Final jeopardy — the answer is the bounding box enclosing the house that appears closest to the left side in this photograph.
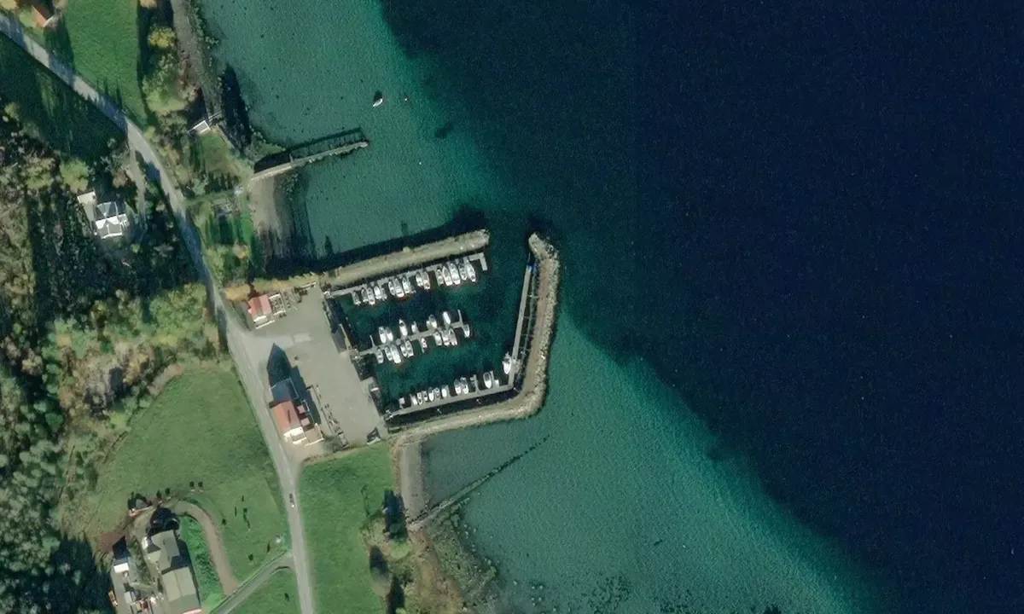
[24,0,54,30]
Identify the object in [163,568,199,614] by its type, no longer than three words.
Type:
barn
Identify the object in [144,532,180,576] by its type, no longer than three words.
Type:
barn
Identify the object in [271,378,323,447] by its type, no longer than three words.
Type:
building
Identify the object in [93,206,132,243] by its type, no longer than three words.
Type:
house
